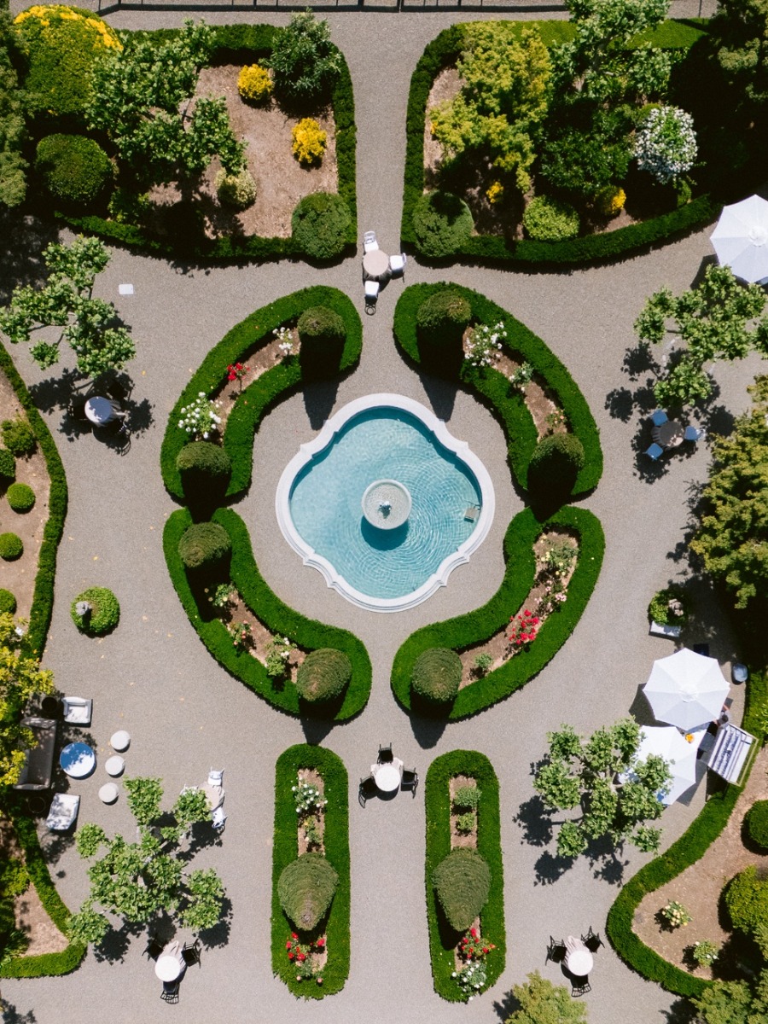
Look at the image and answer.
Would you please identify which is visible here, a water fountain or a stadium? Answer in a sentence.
The image shows a water fountain.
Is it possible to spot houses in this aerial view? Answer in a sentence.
No, I find no house anywhere in the image.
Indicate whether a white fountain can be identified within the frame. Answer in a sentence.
Yes, a white fountain appears in the view.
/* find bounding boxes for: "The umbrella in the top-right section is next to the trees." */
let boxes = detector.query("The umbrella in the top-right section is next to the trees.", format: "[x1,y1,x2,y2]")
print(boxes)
[706,198,768,283]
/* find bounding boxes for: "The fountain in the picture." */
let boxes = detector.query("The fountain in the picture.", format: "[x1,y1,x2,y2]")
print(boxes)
[276,393,494,612]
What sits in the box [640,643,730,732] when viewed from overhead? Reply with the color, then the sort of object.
white umbrella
